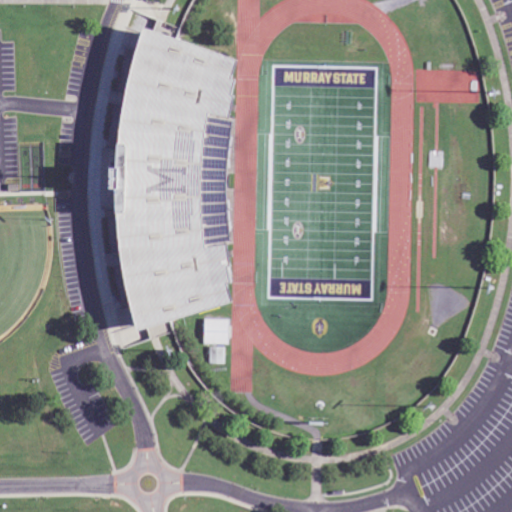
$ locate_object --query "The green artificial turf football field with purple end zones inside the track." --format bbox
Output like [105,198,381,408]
[257,62,390,352]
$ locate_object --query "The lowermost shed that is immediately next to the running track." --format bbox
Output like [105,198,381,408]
[210,346,226,364]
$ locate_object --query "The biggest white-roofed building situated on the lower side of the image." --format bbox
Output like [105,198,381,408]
[204,318,230,346]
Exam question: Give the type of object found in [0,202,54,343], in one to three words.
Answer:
baseball field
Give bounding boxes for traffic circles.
[115,448,184,512]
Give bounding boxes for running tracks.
[231,0,414,392]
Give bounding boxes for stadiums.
[108,29,237,331]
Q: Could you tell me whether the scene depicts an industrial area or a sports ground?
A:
sports ground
